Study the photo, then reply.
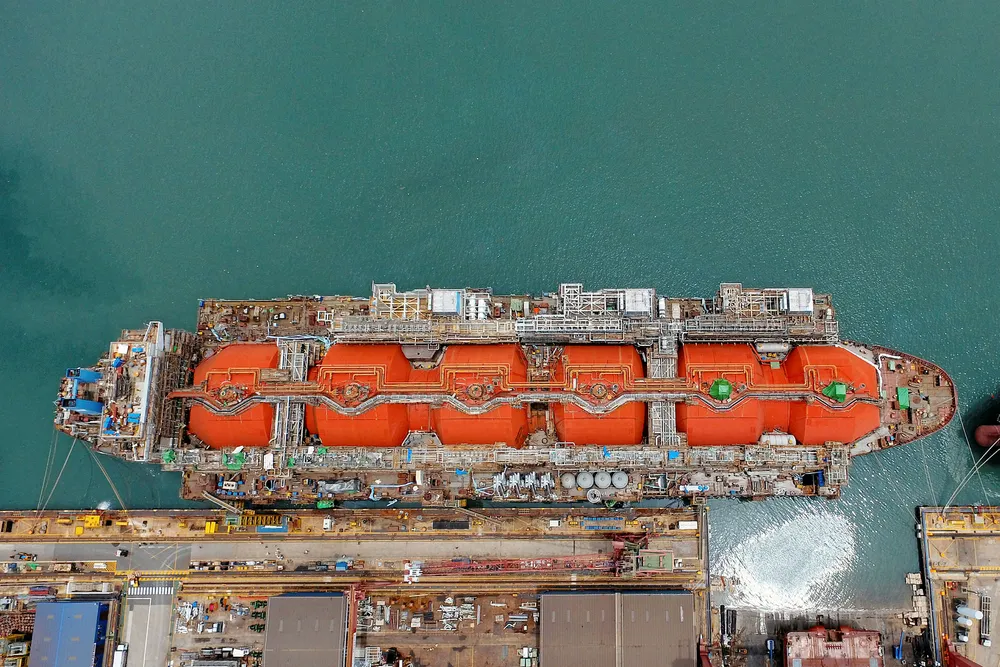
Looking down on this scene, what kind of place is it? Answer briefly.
port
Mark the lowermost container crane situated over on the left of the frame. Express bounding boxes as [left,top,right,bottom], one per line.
[341,579,404,667]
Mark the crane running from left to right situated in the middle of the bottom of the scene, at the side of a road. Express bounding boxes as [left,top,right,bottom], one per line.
[403,534,674,584]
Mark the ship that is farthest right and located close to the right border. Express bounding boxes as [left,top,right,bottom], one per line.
[974,425,1000,448]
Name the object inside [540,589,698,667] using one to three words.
building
